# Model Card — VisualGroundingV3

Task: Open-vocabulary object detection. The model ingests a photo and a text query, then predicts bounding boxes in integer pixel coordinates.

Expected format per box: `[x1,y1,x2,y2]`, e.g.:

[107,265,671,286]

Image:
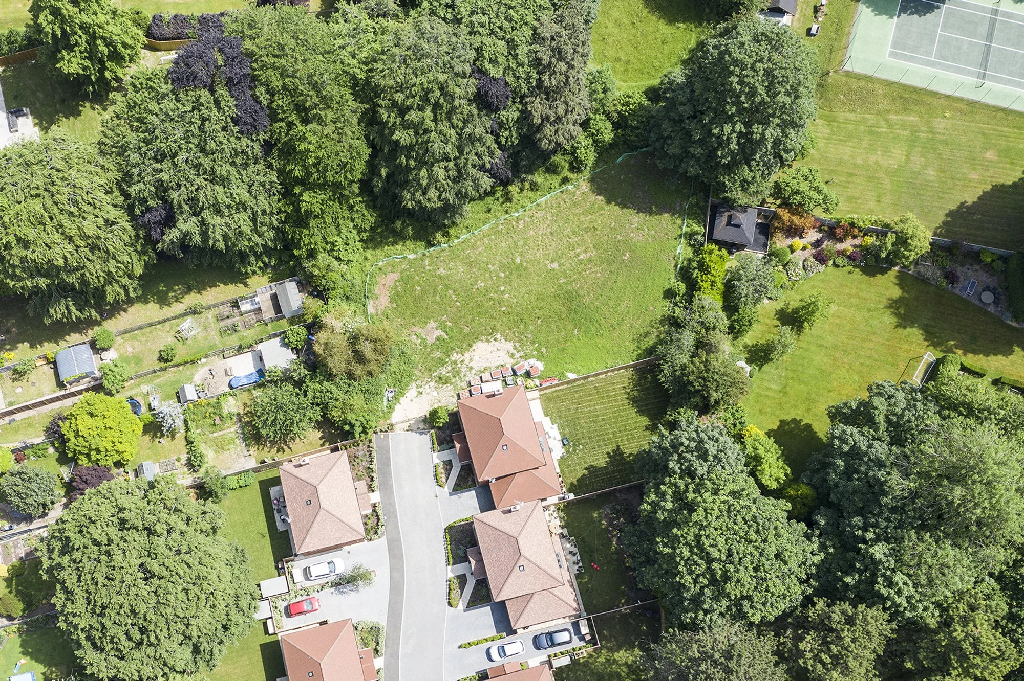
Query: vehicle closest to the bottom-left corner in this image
[287,596,321,618]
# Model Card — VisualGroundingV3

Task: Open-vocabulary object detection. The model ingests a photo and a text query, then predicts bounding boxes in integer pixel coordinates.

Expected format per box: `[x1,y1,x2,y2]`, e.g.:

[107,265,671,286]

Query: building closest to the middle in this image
[452,385,562,509]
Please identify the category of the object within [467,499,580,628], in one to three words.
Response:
house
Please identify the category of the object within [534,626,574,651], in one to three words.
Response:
car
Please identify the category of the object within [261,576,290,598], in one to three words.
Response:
shed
